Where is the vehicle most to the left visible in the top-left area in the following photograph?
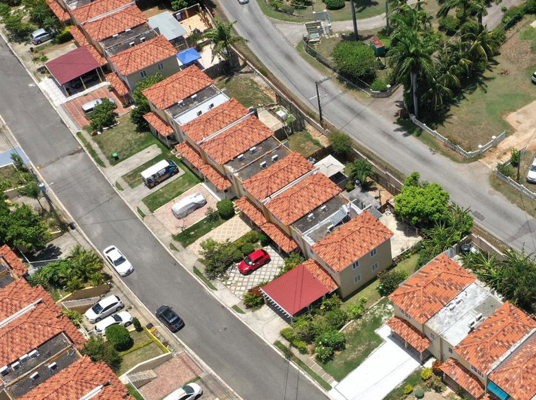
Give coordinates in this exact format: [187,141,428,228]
[29,28,57,45]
